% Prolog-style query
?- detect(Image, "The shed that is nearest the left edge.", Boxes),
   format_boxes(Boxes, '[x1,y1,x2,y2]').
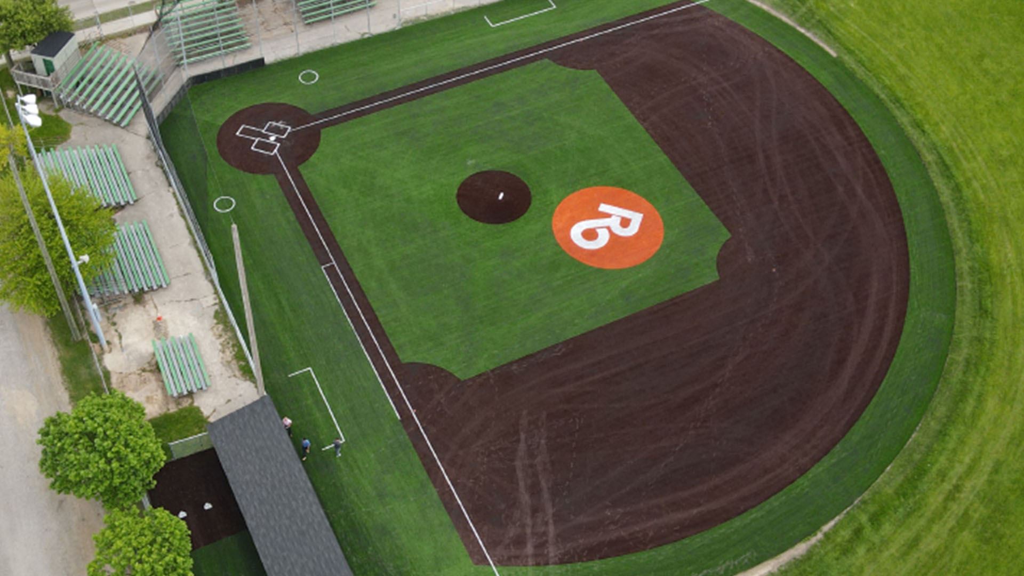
[19,31,83,108]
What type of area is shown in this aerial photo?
sports ground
